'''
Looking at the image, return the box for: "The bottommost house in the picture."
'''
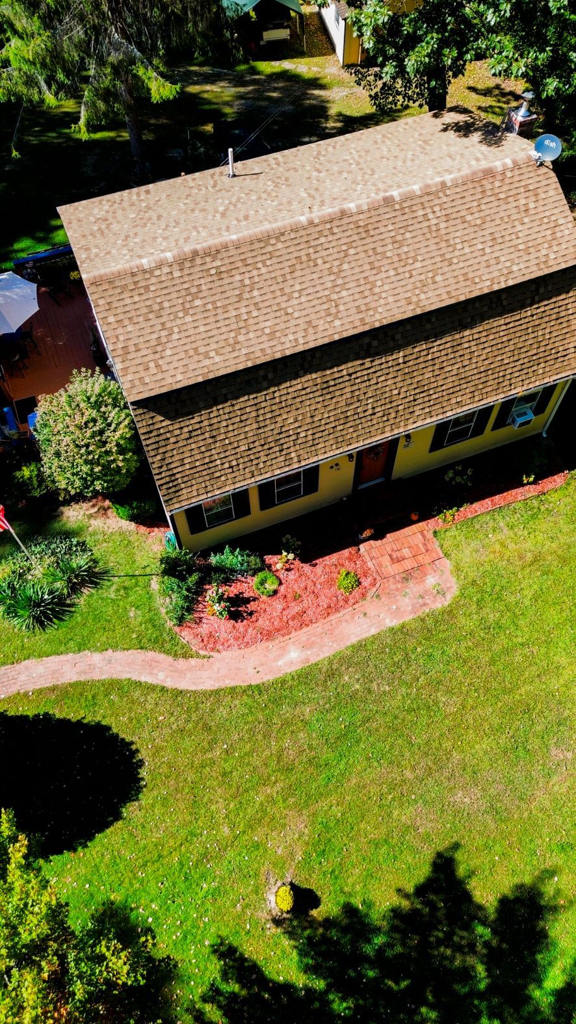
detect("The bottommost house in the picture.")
[57,86,576,551]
